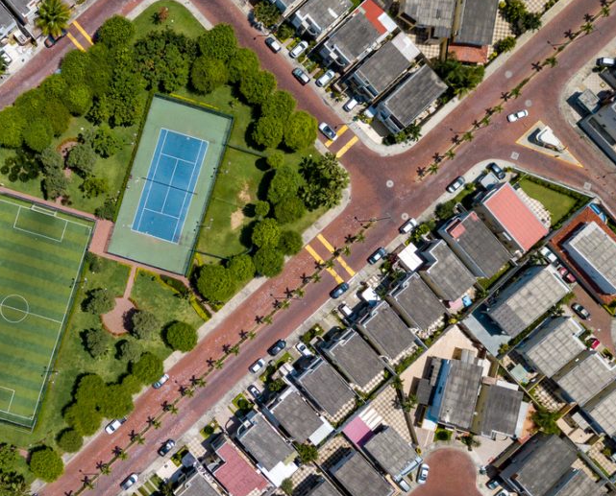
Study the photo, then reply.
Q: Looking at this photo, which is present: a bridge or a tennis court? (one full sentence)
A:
Looking from above, you can make out a tennis court.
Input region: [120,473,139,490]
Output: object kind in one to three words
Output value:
car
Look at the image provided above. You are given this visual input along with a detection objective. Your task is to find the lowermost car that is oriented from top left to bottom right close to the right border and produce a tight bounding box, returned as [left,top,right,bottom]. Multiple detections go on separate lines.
[570,302,590,321]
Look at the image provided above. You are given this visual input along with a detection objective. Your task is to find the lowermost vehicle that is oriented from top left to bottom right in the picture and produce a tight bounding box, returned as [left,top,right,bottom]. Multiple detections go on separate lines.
[394,476,414,496]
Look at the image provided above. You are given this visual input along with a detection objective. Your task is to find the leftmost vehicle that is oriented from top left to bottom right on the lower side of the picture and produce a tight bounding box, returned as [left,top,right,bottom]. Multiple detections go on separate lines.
[247,384,263,402]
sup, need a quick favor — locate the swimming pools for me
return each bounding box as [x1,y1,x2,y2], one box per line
[590,202,607,220]
[462,293,475,308]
